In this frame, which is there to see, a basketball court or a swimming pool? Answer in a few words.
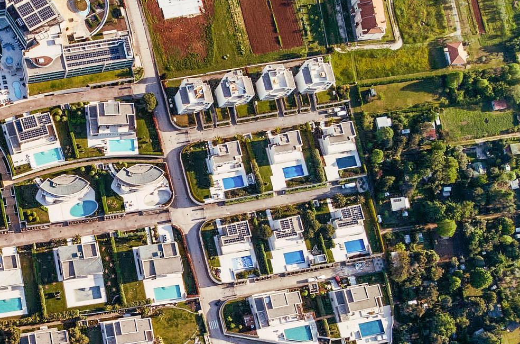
swimming pool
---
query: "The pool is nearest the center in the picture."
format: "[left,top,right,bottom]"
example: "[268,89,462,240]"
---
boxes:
[228,170,252,189]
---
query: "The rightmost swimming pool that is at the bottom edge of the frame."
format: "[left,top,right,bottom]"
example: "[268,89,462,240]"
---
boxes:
[357,319,385,339]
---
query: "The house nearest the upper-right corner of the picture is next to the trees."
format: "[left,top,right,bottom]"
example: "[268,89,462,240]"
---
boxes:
[442,42,467,68]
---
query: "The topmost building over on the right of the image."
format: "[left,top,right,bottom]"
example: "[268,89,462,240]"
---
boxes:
[348,0,386,43]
